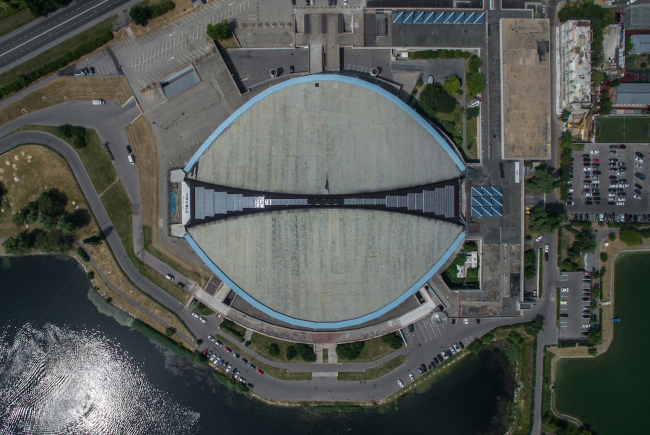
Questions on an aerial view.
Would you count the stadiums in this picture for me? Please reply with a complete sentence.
I count just 1 stadium.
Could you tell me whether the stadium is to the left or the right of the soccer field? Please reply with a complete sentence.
To the left of the soccer field is where the stadium appears.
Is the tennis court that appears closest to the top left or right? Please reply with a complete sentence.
The tennis court that appears closest to the top sits on the right side.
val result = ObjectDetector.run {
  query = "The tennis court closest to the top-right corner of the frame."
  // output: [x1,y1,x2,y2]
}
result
[621,2,650,31]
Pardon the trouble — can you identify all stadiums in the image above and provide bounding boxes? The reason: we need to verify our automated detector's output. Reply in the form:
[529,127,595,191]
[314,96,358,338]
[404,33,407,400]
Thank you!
[171,74,468,329]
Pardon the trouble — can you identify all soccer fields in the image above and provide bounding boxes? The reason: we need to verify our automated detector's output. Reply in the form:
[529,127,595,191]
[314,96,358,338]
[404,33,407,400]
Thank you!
[593,114,650,143]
